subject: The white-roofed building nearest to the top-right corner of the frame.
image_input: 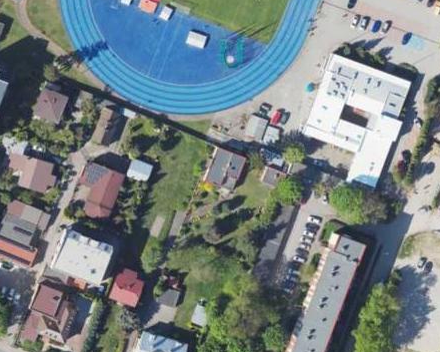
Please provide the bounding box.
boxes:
[303,53,411,189]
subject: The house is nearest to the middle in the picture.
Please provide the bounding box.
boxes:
[203,146,248,190]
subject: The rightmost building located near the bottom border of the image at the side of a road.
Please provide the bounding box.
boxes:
[286,236,367,352]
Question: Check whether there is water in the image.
No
